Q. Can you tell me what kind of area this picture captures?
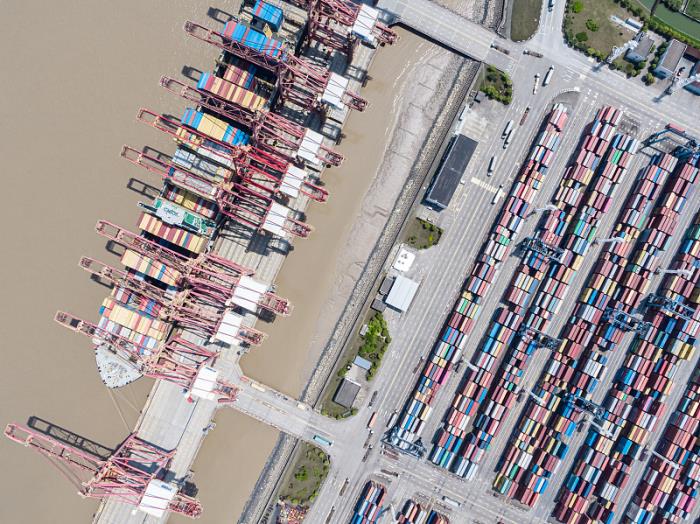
port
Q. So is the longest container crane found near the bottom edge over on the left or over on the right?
left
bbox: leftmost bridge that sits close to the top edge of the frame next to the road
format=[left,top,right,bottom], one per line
[362,0,511,70]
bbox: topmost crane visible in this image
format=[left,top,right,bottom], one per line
[282,0,404,65]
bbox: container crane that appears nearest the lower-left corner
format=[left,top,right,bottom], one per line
[5,418,197,518]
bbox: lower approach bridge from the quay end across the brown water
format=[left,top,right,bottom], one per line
[216,378,318,441]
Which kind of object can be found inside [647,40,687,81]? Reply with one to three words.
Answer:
building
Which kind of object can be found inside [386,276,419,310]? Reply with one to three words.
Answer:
shed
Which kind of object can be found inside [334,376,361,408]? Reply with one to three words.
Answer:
building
